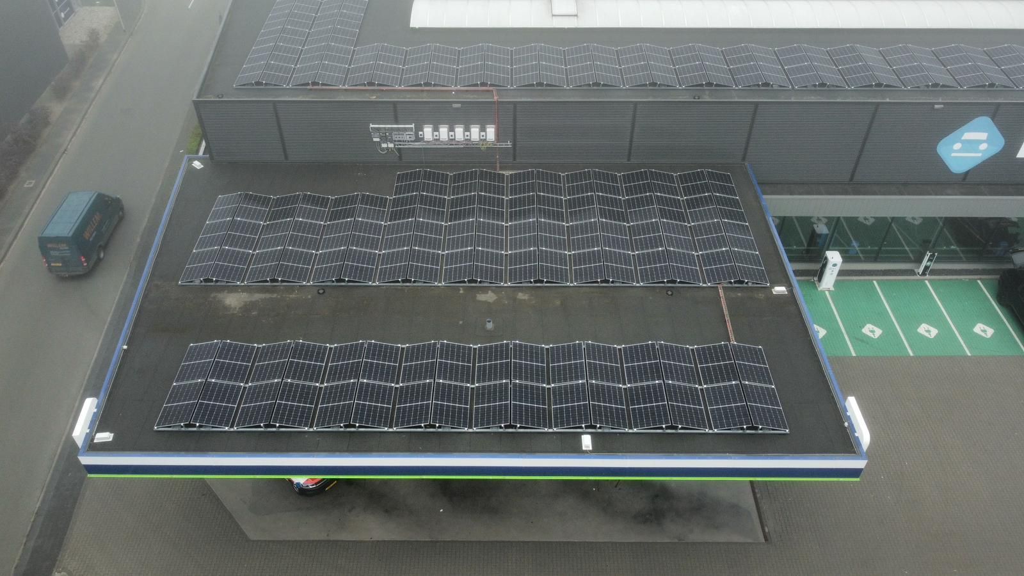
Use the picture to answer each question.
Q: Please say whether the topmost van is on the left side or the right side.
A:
left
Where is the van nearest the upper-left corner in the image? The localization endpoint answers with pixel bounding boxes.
[37,188,125,276]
